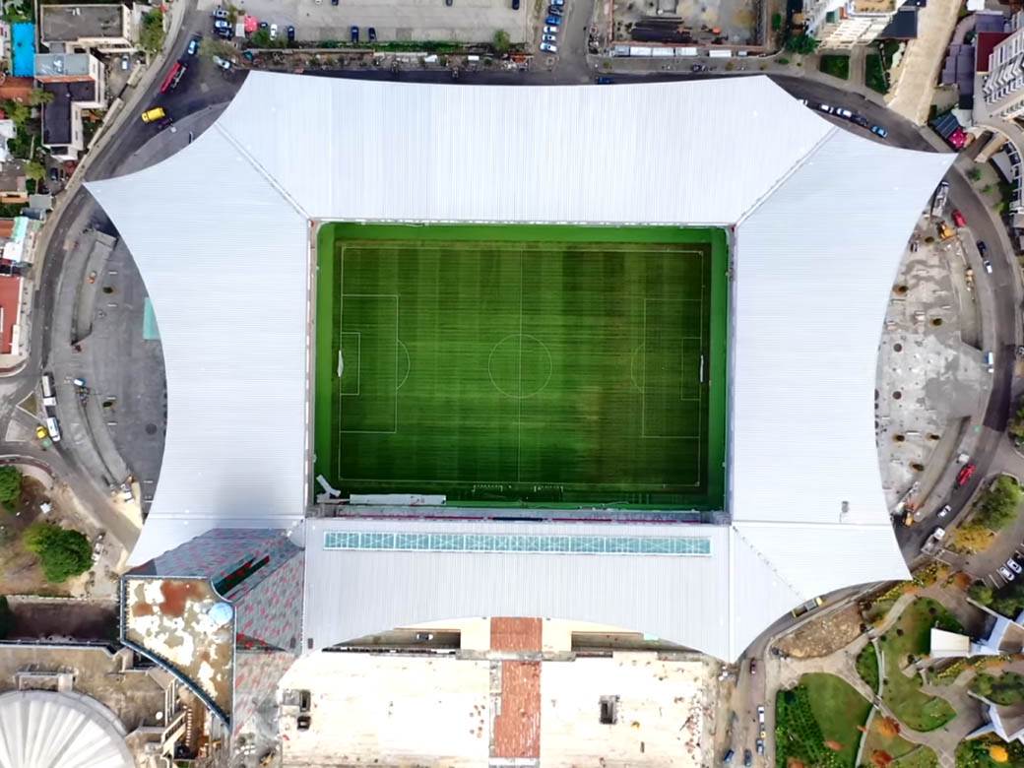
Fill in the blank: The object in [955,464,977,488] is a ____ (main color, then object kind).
red truck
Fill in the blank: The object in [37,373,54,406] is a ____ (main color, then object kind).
white vehicle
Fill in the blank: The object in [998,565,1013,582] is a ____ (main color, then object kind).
white car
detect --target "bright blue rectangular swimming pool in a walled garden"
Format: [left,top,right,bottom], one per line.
[11,21,35,77]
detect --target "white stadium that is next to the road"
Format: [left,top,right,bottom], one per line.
[87,71,954,661]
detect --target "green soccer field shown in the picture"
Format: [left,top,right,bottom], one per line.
[307,226,727,518]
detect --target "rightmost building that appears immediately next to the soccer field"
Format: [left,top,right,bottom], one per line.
[120,528,303,756]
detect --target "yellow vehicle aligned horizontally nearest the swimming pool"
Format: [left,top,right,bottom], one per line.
[138,105,166,121]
